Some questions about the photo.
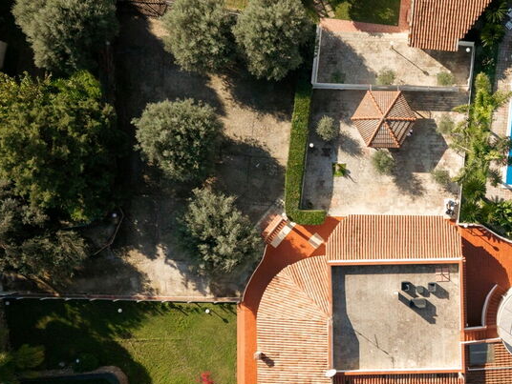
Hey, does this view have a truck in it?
No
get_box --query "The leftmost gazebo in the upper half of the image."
[350,88,418,149]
